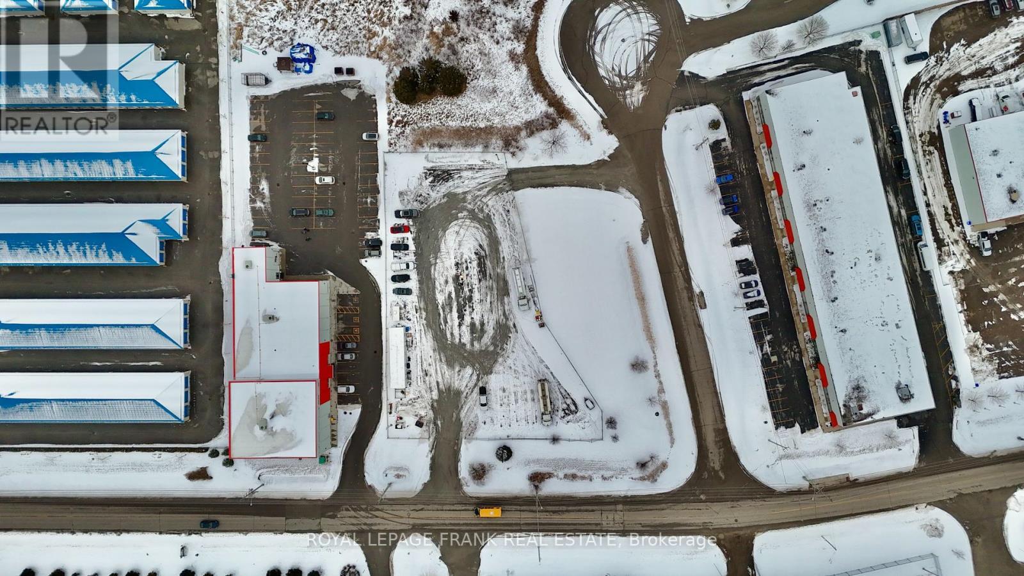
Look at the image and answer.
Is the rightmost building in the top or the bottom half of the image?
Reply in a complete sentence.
You can find the rightmost building in the top half.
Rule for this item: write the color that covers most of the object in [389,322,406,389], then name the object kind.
white trailer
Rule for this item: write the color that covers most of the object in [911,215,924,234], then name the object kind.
blue vehicle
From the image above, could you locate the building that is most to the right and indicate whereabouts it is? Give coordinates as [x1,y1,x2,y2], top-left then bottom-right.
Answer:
[948,108,1024,226]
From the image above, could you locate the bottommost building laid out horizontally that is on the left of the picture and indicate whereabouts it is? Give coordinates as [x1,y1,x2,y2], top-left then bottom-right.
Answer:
[0,372,189,424]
